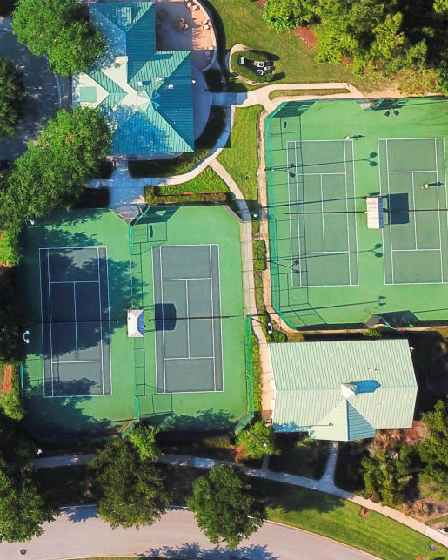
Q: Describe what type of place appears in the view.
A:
sports ground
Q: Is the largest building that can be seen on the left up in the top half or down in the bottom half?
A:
top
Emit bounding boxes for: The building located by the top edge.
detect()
[72,1,194,152]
